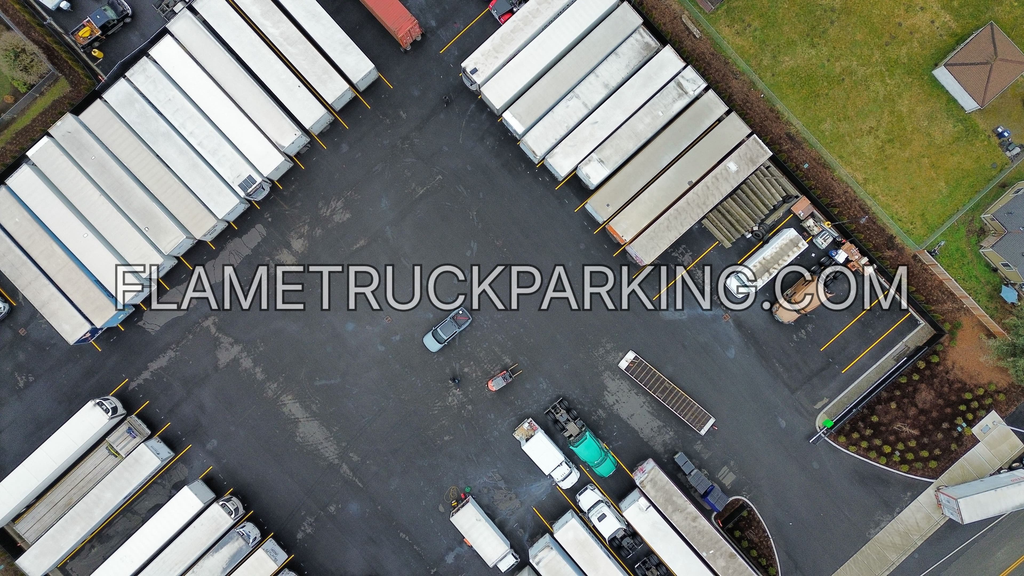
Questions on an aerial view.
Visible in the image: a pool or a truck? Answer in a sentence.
This aerial view contains a truck.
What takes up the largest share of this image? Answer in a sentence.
Most of the picture is covered by paved ground.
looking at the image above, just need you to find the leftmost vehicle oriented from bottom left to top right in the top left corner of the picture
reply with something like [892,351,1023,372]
[69,1,136,51]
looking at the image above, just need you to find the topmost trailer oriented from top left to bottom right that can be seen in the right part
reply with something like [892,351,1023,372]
[617,349,716,436]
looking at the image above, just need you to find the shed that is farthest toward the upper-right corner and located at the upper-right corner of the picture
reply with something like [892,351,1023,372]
[933,21,1024,110]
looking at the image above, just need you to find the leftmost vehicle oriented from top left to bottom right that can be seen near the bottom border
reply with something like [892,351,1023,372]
[450,491,523,575]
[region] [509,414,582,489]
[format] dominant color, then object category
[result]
white truck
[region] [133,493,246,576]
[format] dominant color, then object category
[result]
white trailer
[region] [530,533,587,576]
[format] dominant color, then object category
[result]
white trailer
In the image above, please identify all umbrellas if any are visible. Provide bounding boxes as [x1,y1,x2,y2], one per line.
[993,284,1016,305]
